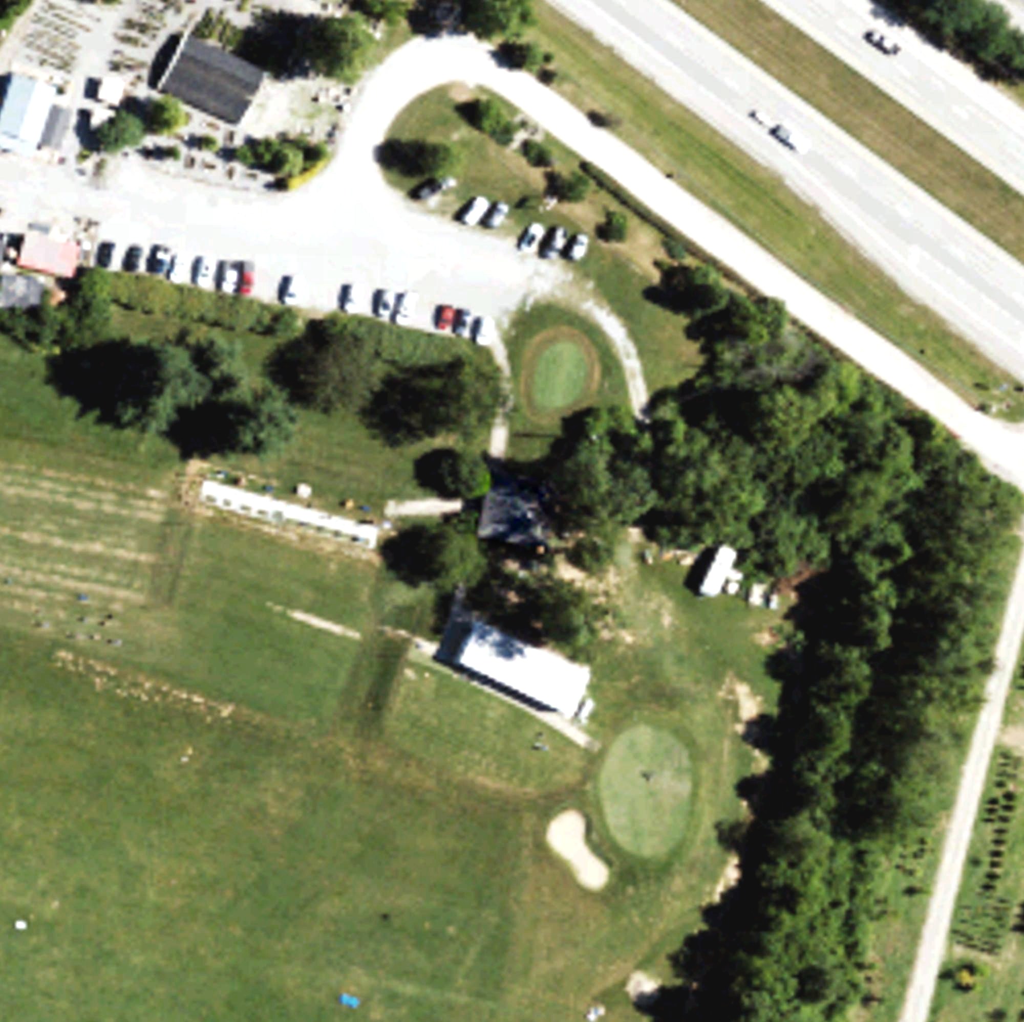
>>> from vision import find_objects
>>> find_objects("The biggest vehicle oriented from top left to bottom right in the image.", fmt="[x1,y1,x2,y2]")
[773,122,814,157]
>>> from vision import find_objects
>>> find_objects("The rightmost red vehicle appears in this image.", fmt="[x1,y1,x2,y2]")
[440,303,455,330]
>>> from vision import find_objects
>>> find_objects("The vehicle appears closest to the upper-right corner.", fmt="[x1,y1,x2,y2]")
[868,30,896,54]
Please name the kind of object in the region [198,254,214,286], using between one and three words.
vehicle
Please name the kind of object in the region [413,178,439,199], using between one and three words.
car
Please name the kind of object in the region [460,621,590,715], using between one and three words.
building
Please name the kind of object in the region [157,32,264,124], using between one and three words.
barn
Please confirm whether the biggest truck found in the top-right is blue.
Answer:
No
